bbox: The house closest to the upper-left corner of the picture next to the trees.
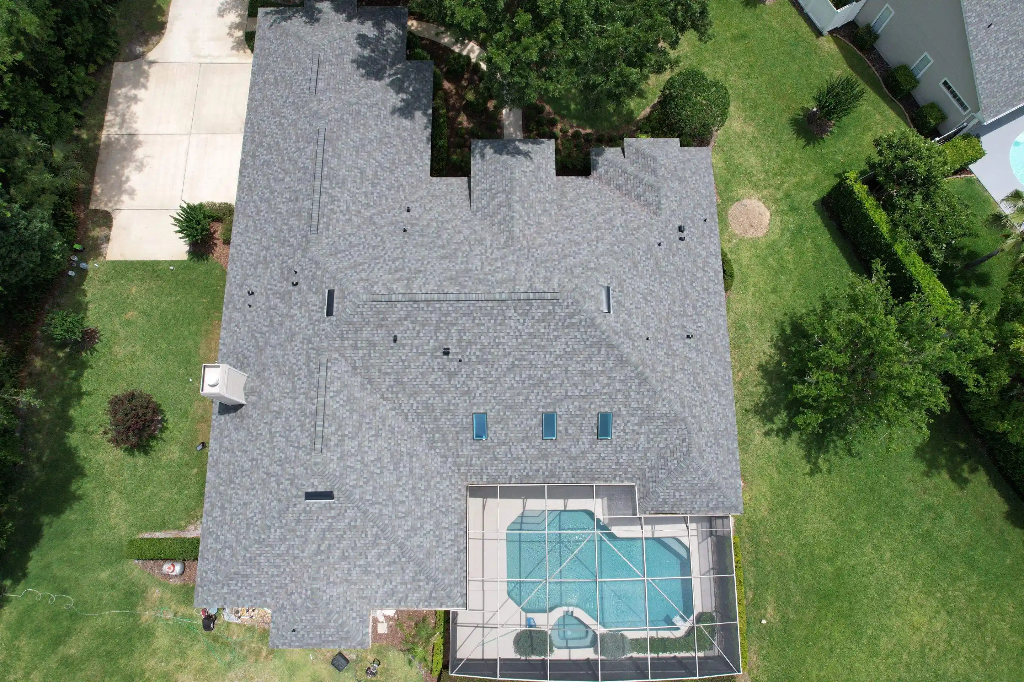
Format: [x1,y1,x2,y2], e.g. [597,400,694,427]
[192,0,743,652]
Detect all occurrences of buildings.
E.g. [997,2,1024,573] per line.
[192,0,743,652]
[839,0,1024,134]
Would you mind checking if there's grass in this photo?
Yes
